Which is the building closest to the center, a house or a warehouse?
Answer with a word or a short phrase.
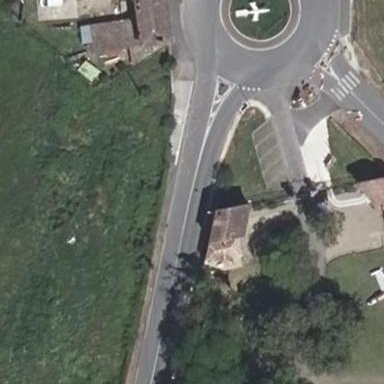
house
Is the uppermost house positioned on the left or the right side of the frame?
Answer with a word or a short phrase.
left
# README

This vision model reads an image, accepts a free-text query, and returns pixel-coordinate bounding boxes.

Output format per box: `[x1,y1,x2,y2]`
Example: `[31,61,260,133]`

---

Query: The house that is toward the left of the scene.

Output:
[78,0,172,65]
